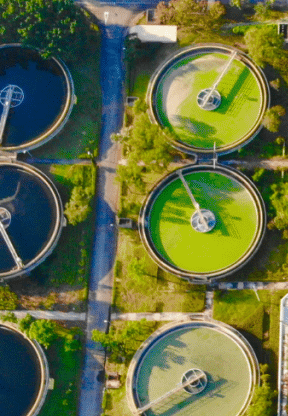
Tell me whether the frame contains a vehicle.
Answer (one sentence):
No, no vehicle can be seen from above.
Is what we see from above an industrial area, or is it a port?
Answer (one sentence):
What you see here is an industrial area.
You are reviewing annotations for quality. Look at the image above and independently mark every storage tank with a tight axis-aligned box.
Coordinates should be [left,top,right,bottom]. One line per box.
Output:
[126,311,259,416]
[0,42,82,163]
[147,44,269,168]
[137,164,265,290]
[0,160,71,284]
[0,318,56,416]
